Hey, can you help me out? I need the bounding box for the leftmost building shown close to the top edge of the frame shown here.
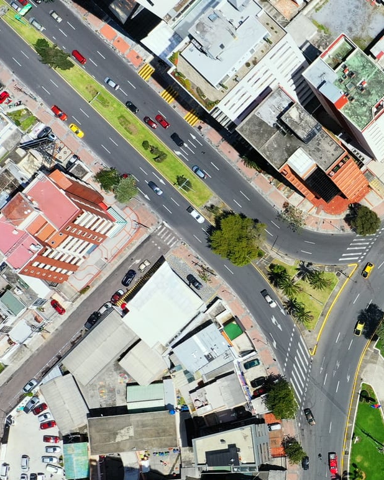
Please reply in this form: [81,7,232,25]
[87,0,160,60]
